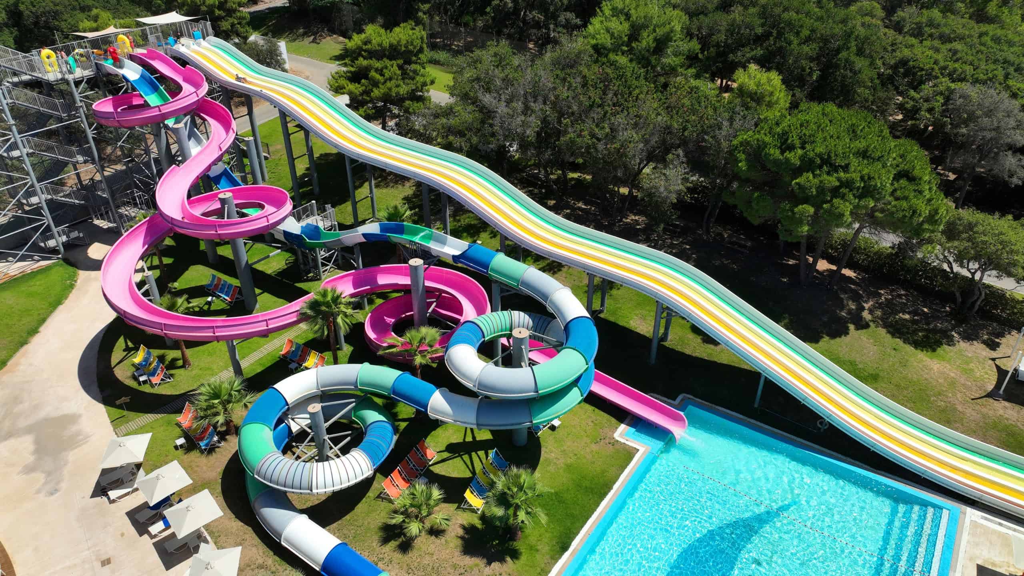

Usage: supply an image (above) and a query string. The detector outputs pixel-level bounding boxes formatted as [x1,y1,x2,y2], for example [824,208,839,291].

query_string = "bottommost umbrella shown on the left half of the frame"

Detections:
[191,544,239,576]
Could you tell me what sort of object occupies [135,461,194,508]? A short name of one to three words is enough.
umbrella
